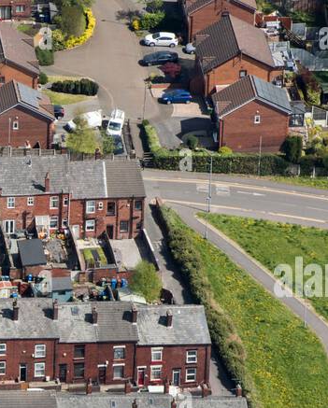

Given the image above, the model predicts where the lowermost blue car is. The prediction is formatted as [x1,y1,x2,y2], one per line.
[160,88,193,103]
